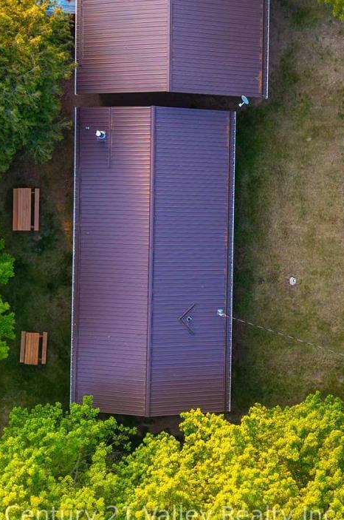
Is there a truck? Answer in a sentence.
No, the frame has no truck in it.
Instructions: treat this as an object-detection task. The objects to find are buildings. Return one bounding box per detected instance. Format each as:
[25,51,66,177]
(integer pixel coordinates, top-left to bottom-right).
[72,0,270,98]
[67,105,238,415]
